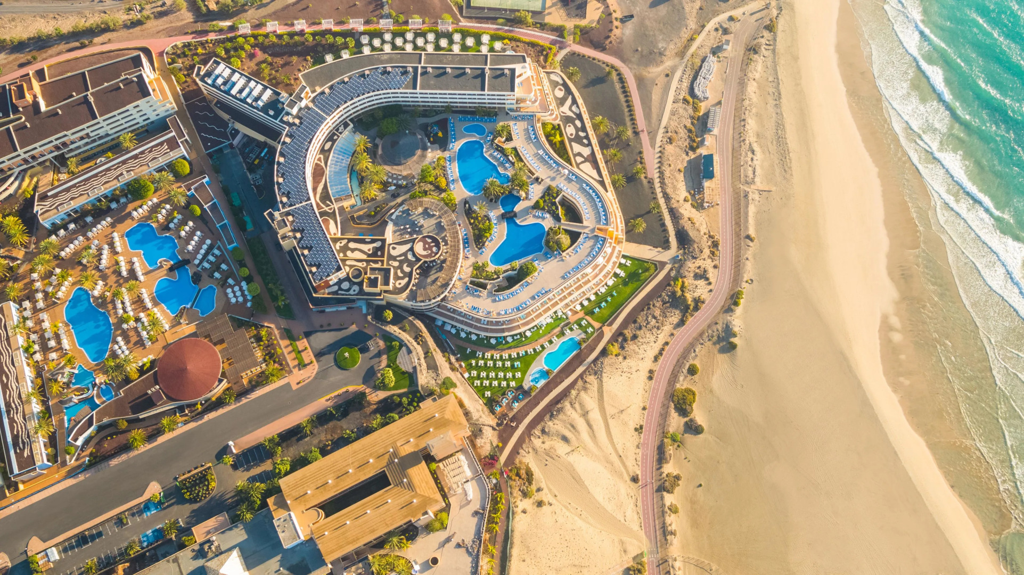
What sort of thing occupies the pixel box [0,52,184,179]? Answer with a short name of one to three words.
building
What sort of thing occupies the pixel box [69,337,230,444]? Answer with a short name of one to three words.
building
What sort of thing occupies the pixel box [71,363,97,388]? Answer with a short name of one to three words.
swimming pool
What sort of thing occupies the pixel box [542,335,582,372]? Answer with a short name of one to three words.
swimming pool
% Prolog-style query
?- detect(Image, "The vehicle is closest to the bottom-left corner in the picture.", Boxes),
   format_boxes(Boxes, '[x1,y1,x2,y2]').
[46,548,59,561]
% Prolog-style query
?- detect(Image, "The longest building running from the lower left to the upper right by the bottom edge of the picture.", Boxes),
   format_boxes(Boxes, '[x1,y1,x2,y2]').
[267,392,469,563]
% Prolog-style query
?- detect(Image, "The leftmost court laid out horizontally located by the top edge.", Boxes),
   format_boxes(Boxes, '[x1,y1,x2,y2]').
[463,0,546,21]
